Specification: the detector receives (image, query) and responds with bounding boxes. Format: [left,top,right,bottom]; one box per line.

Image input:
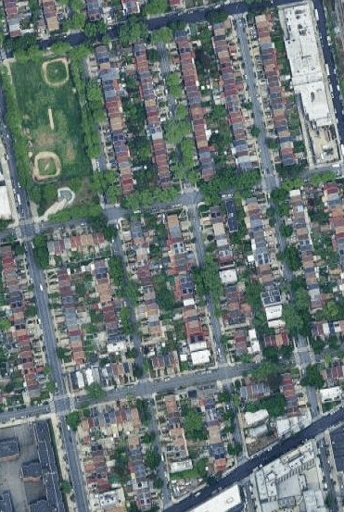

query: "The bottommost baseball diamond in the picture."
[23,101,89,183]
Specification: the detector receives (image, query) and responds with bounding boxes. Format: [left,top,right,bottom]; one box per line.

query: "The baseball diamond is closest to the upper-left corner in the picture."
[12,54,78,110]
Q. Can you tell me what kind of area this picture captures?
residential area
